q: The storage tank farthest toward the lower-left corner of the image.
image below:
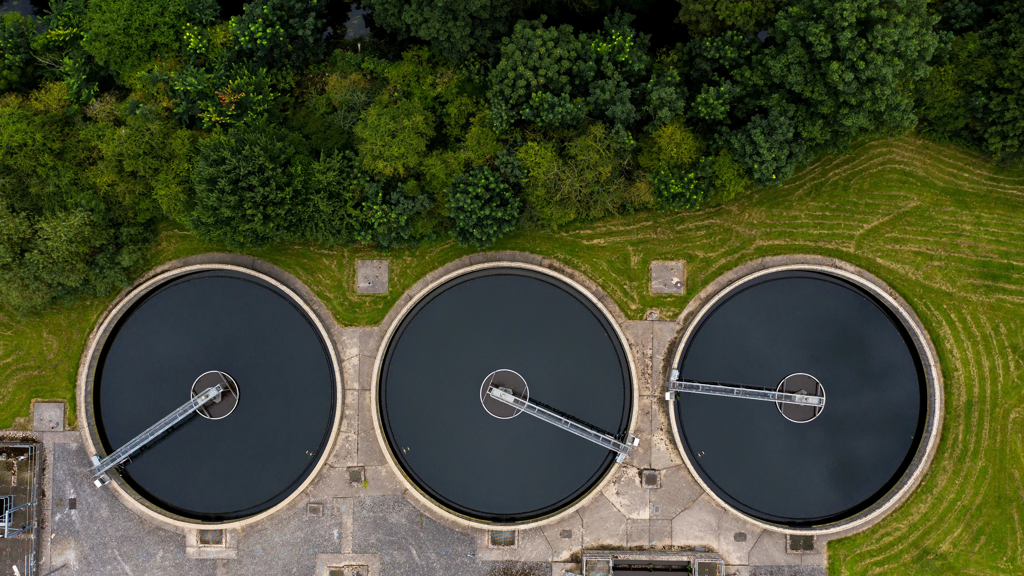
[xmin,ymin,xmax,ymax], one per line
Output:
[80,264,344,530]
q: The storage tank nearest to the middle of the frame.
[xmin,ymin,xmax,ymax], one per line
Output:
[371,263,638,532]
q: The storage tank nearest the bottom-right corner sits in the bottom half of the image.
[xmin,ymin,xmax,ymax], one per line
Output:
[667,264,940,535]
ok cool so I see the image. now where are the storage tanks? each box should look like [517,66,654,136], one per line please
[667,264,940,535]
[80,264,344,530]
[371,263,638,532]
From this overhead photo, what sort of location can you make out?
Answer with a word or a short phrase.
industrial area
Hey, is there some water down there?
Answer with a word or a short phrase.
Yes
